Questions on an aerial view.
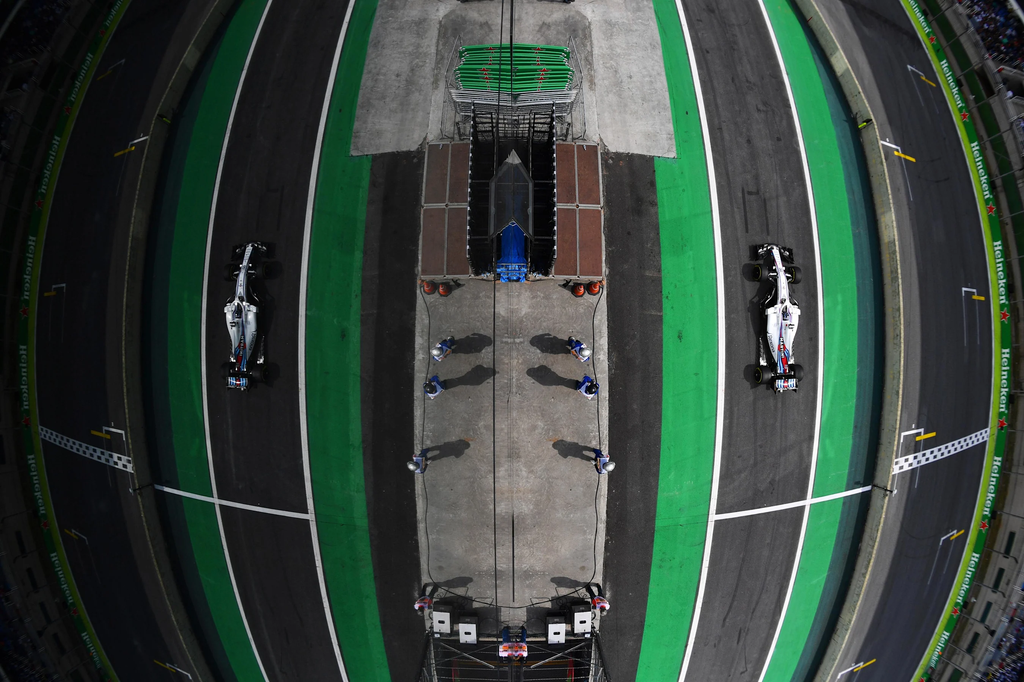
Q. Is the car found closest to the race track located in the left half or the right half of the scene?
right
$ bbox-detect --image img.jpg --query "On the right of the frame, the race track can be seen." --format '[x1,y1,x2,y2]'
[839,0,993,682]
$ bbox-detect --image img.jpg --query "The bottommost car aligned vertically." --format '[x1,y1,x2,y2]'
[751,244,808,394]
